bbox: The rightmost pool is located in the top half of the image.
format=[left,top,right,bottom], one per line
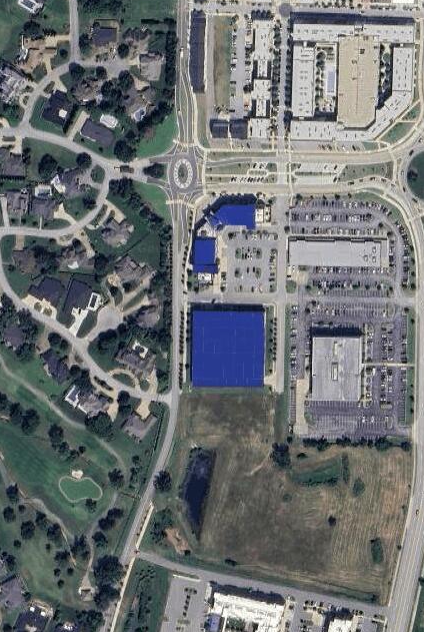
[316,44,337,116]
